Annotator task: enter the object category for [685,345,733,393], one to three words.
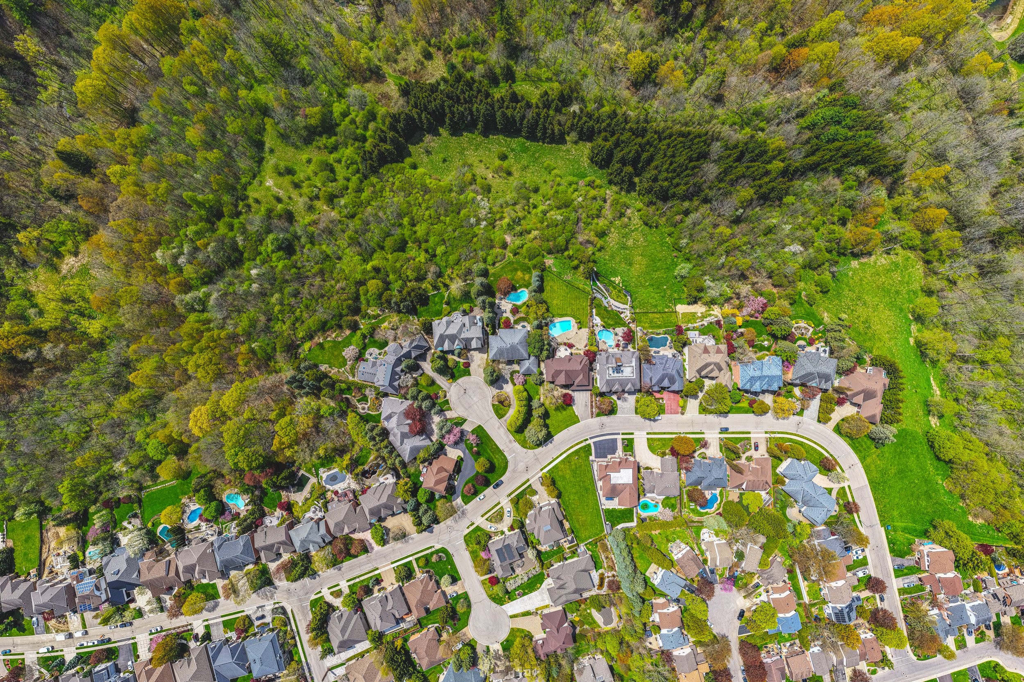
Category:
house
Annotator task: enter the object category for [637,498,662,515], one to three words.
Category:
swimming pool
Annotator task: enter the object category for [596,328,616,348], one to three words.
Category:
swimming pool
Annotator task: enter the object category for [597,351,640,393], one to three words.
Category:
house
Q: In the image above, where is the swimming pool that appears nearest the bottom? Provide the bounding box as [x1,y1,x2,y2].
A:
[596,607,615,628]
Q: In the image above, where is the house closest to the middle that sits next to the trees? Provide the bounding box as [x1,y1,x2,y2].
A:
[489,328,538,374]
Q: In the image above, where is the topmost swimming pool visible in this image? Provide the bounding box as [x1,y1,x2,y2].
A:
[505,289,530,304]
